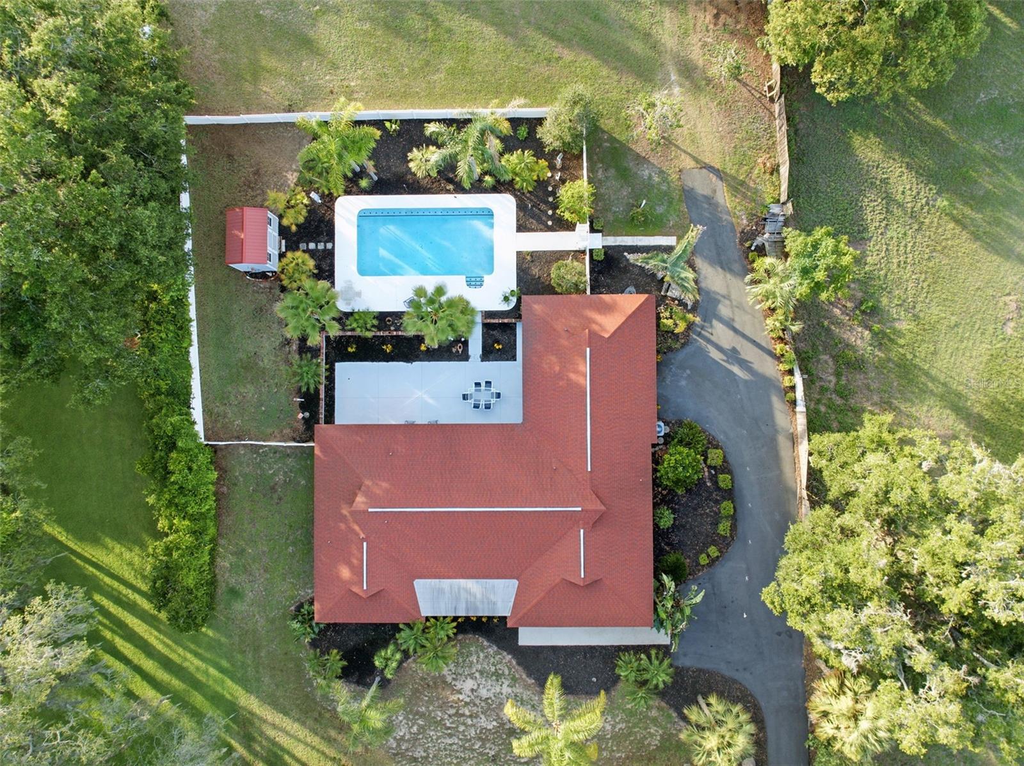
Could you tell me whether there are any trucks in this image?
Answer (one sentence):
No, I can't see a single truck in this photo.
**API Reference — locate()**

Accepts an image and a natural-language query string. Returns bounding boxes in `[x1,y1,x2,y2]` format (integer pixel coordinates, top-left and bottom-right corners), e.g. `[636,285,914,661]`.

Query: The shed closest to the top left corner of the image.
[225,203,277,269]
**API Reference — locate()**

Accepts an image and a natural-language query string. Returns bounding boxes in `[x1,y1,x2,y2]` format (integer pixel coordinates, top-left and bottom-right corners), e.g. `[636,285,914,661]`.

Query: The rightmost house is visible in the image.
[313,293,654,628]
